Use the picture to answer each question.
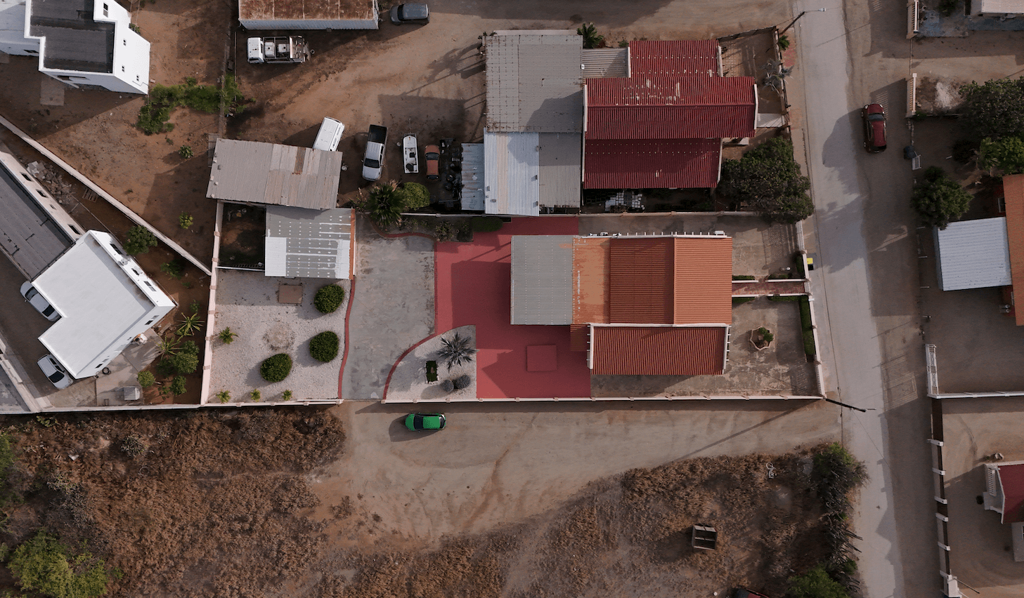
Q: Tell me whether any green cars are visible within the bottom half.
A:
Yes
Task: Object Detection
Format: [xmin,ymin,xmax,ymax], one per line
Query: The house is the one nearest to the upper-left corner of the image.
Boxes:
[25,0,150,93]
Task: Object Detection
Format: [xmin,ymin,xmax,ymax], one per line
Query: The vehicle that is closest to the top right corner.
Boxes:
[860,104,887,153]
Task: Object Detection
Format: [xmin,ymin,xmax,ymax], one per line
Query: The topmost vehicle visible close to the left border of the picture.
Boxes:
[18,281,62,327]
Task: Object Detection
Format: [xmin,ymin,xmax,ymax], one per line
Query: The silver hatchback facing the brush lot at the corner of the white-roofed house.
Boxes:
[32,352,74,392]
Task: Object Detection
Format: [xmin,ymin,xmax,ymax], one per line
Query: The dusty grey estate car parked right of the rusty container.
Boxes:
[390,1,431,26]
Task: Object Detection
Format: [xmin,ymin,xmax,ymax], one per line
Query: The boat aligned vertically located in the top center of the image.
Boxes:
[402,134,418,174]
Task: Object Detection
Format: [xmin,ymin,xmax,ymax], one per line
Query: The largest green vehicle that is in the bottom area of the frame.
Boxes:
[406,412,447,433]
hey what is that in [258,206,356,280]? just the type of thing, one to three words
shed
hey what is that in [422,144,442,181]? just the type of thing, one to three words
car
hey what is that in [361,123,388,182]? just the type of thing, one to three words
truck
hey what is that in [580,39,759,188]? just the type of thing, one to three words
house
